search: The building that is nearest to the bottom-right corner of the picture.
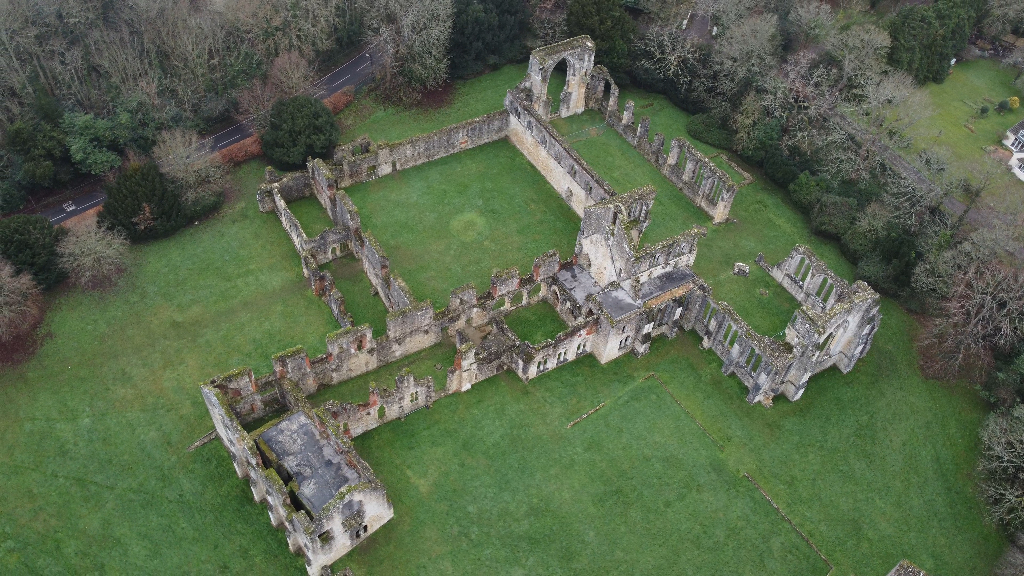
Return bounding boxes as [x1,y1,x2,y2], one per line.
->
[764,280,893,401]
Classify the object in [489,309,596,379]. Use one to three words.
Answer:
house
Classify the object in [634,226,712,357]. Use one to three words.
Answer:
building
